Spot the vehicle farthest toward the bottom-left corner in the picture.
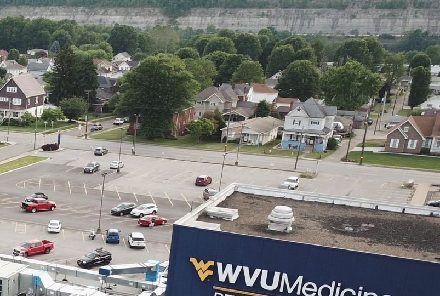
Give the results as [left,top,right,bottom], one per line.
[12,238,53,256]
